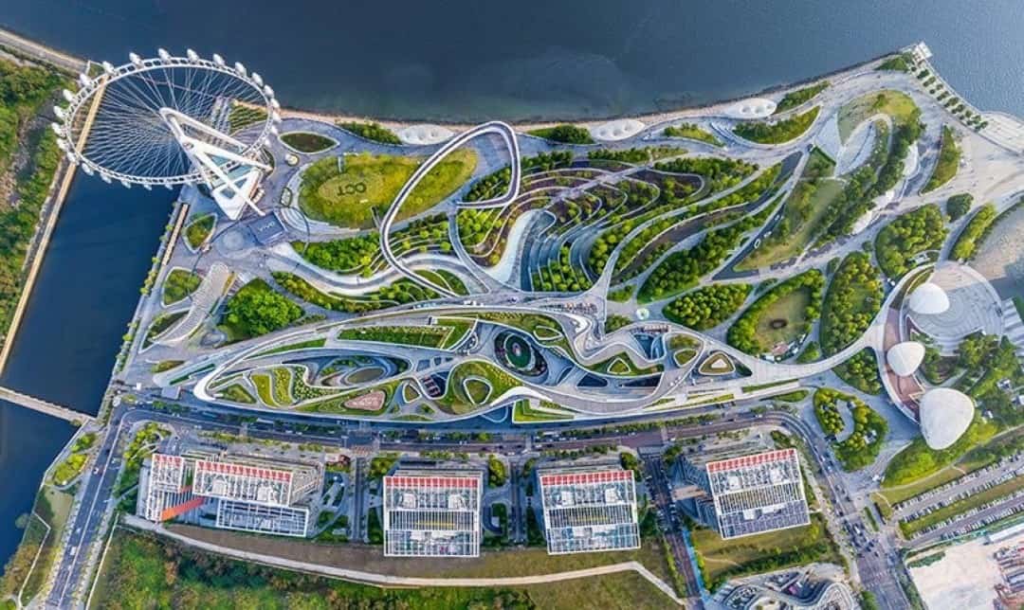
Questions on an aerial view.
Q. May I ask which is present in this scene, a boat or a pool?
pool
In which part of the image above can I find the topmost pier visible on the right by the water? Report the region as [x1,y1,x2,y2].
[900,40,990,134]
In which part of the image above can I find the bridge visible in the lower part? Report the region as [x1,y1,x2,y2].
[0,386,95,427]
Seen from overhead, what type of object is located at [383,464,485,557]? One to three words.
building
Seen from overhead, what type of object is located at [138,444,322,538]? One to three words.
building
